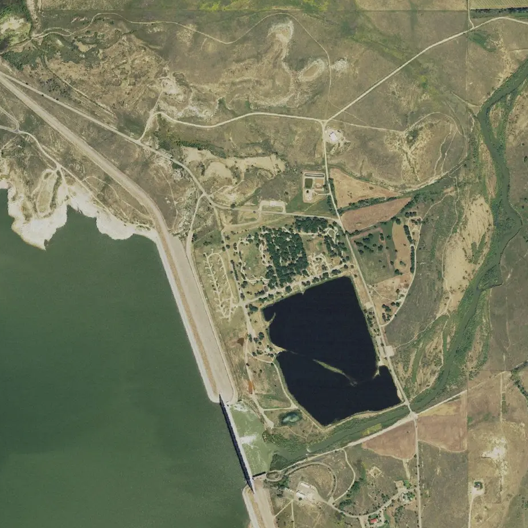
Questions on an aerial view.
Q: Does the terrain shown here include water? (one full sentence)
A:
Yes, some water is visible.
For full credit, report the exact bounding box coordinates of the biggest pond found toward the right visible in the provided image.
[262,277,399,426]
